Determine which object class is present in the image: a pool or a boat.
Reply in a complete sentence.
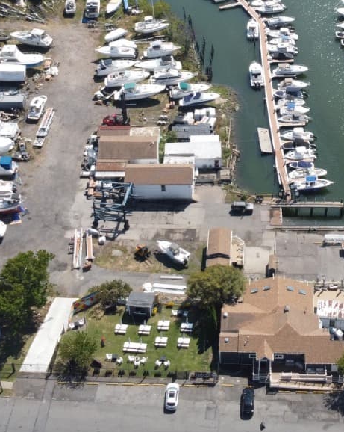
Of the two, only a boat appears.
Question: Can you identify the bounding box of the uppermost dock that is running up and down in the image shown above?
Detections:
[219,0,313,201]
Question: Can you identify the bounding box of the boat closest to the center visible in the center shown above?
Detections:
[159,241,195,271]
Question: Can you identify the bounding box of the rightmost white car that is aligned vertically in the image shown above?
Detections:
[163,383,180,412]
